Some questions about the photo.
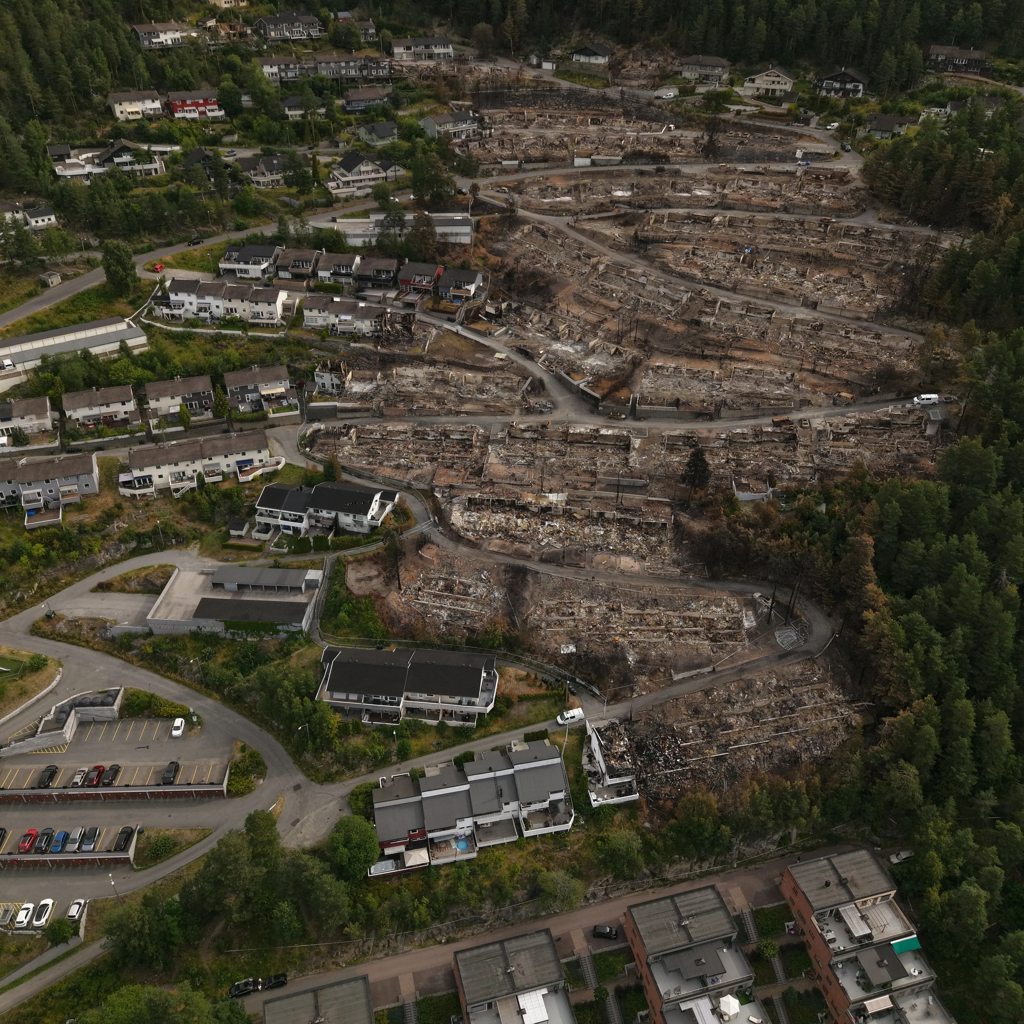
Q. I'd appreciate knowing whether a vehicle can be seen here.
Yes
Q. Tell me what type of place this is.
residential area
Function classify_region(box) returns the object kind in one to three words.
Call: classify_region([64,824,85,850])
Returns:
car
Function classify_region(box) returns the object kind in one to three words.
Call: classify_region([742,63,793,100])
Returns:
house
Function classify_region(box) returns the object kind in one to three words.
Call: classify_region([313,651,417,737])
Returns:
house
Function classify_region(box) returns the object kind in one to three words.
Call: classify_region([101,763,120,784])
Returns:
car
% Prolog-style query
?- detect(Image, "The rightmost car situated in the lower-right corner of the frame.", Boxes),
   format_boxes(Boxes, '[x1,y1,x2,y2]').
[889,847,917,865]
